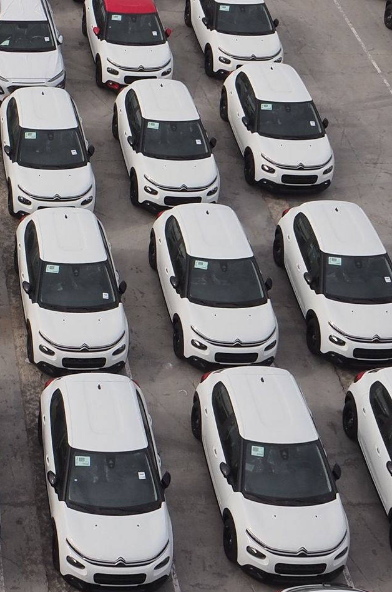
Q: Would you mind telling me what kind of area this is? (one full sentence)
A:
The picture captures a parking lot.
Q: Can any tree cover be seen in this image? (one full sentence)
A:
No, there's no tree cover in this view.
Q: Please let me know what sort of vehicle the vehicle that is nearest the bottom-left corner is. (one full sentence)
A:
It turns out the vehicle that is nearest the bottom-left corner is an automobile.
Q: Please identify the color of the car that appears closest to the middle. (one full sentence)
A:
From above, the car that appears closest to the middle appears white.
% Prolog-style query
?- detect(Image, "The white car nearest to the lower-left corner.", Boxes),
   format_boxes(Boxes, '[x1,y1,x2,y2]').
[37,370,172,591]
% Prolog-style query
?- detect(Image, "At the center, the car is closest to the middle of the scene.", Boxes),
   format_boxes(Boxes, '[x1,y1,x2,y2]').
[150,199,277,368]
